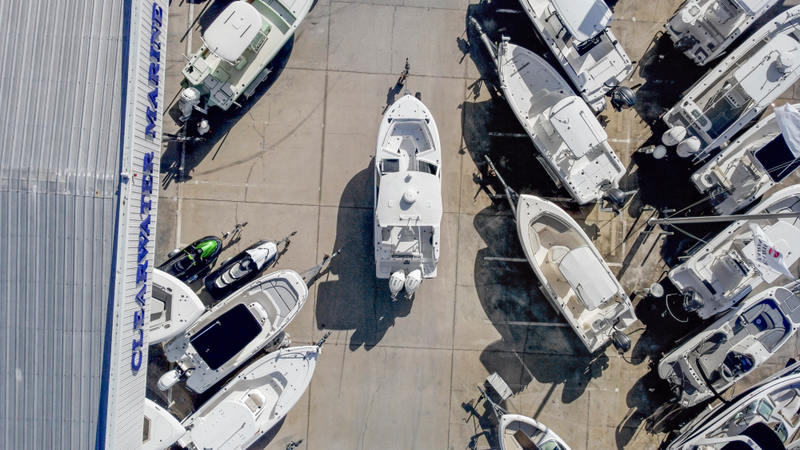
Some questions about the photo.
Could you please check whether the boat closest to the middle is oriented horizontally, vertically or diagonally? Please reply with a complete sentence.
What the image shows is the boat closest to the middle lying vertically.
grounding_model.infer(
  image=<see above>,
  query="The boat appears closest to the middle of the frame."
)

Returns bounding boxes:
[374,91,441,305]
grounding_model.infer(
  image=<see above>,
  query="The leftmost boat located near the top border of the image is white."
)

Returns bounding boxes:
[177,0,312,112]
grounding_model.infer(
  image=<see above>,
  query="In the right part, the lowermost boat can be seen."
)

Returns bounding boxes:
[499,410,570,450]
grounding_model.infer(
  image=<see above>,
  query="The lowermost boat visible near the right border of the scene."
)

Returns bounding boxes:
[648,359,800,450]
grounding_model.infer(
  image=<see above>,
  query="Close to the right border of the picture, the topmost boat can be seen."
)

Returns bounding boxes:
[662,0,780,68]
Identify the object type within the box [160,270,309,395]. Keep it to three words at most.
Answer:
boat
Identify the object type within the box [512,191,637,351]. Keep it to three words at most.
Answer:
boat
